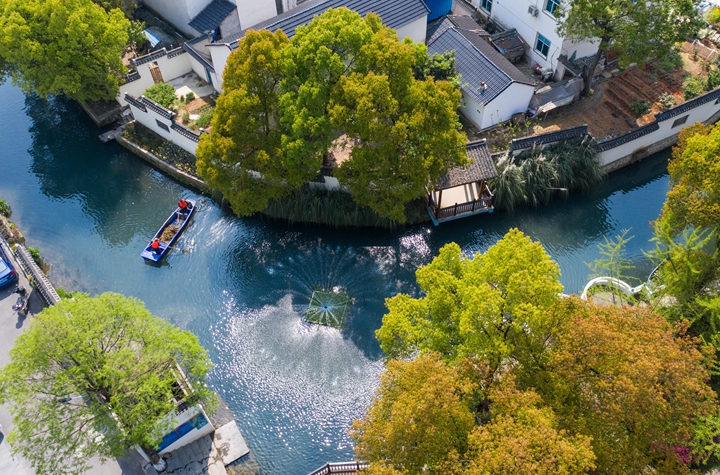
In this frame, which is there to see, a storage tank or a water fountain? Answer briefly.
water fountain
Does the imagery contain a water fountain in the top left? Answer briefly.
No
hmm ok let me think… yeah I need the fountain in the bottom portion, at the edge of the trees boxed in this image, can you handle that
[235,239,396,391]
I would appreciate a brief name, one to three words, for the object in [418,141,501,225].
building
